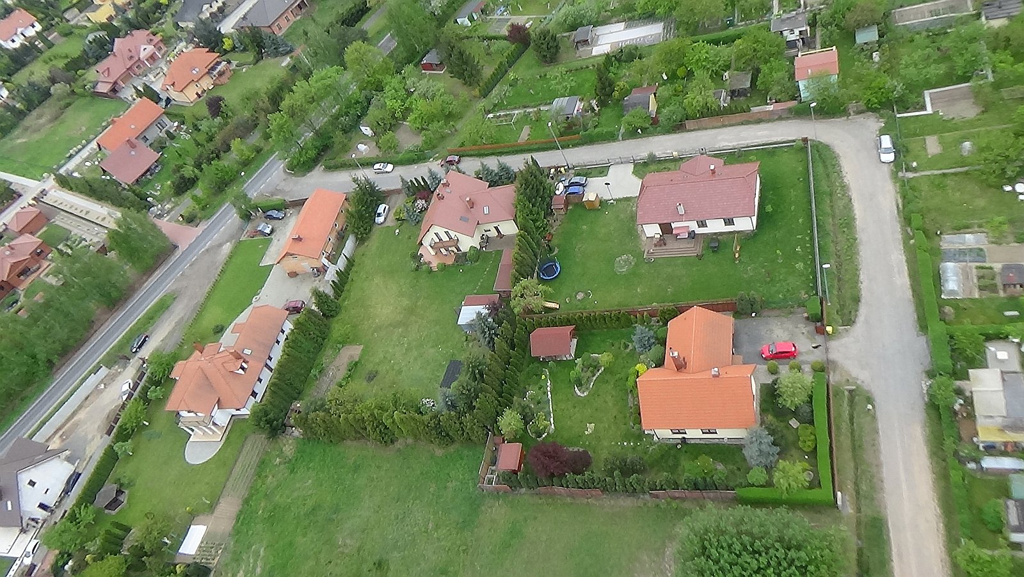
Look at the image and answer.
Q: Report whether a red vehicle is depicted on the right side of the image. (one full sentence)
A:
Yes, on the right side of the image there is a red vehicle.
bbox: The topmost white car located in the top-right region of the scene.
[877,132,895,162]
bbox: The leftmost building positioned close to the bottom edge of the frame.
[0,435,79,553]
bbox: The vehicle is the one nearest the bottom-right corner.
[761,341,798,360]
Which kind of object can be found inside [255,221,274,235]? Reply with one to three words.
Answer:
car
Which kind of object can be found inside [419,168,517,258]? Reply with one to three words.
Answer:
house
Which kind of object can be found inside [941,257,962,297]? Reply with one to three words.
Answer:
greenhouse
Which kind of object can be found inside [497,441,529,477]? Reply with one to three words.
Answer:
shed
